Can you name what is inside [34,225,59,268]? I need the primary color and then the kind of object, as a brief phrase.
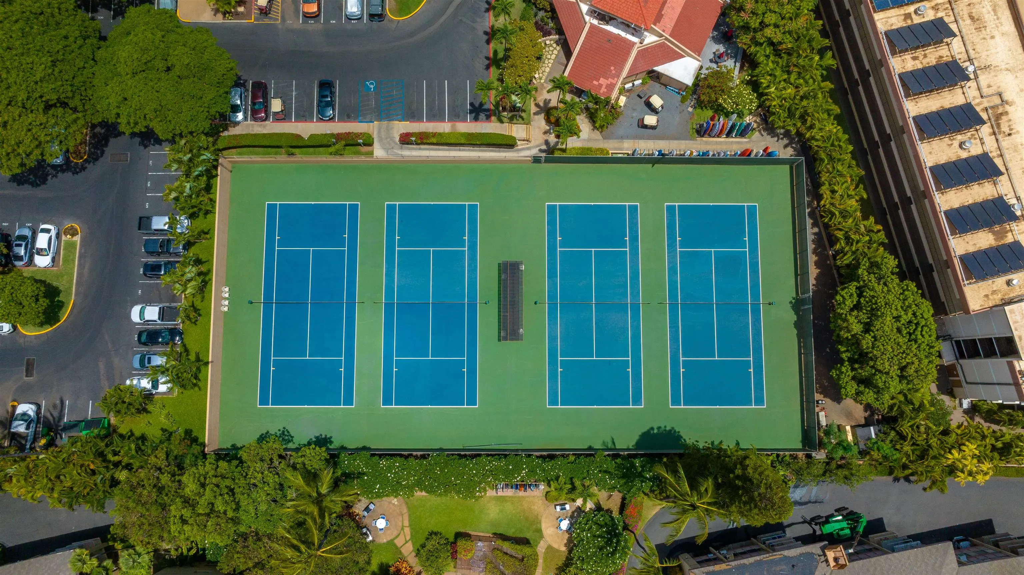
white car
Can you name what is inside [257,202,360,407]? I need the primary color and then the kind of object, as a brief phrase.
blue tennis court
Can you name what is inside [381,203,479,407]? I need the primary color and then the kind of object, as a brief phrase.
blue tennis court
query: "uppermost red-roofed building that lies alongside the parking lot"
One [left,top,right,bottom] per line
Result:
[552,0,723,102]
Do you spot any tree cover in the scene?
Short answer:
Yes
